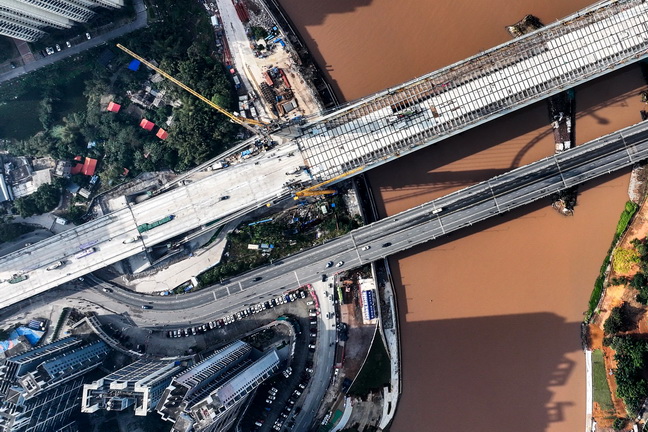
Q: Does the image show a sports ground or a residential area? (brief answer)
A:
residential area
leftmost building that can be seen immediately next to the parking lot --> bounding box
[0,336,111,432]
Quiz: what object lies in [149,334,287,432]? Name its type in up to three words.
building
